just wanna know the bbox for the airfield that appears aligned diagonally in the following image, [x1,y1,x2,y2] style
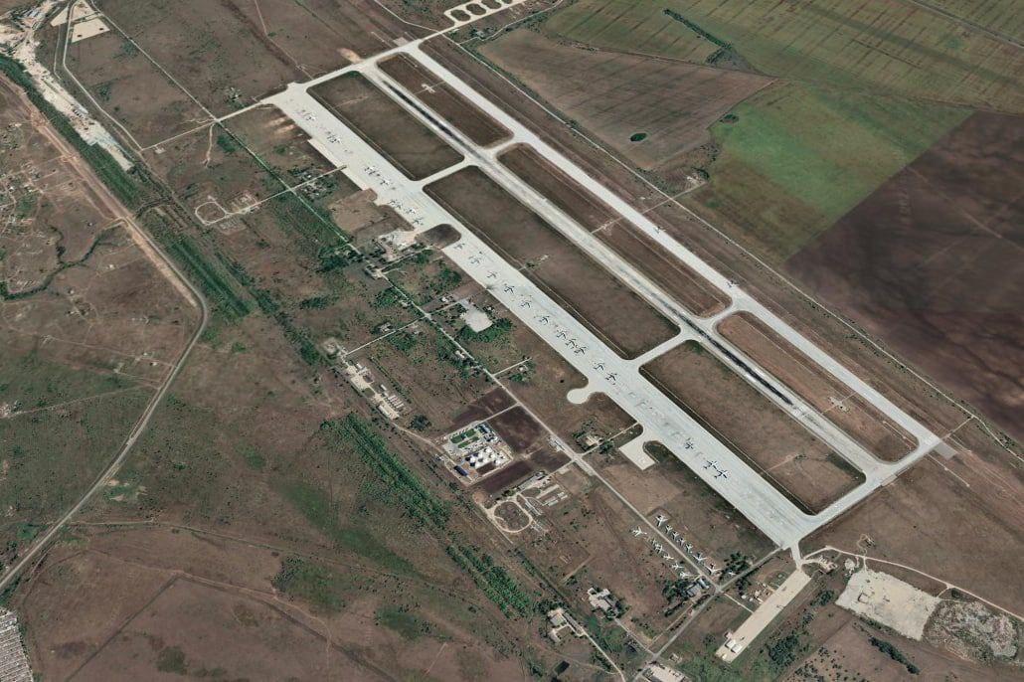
[260,0,956,663]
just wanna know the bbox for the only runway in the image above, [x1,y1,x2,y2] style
[349,57,904,489]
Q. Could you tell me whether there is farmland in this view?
Yes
